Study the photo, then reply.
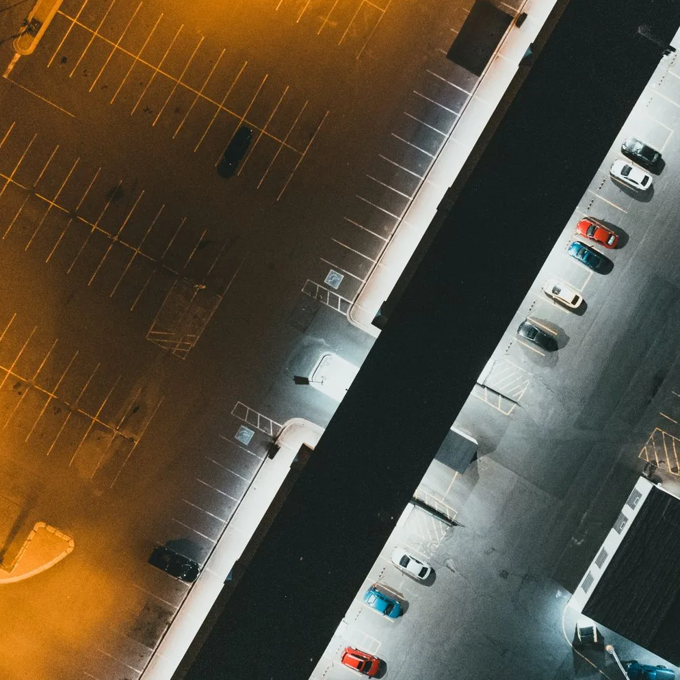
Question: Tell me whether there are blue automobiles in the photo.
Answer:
Yes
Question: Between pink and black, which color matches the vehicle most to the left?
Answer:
black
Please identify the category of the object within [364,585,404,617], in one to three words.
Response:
car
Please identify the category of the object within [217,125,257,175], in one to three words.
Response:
car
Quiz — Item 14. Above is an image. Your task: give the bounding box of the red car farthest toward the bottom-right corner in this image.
[340,644,383,679]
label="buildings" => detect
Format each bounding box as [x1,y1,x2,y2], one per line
[574,477,680,671]
[165,0,680,680]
